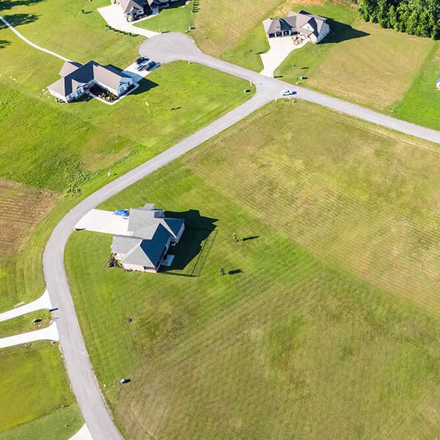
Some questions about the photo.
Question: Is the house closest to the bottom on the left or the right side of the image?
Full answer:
The house closest to the bottom sits on the left side.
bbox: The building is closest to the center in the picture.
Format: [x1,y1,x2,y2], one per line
[108,204,188,276]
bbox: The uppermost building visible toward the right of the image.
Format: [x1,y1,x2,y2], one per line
[260,10,331,46]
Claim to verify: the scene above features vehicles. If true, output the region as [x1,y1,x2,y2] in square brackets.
[134,63,145,71]
[111,209,129,217]
[135,55,147,63]
[145,60,156,70]
[279,88,294,95]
